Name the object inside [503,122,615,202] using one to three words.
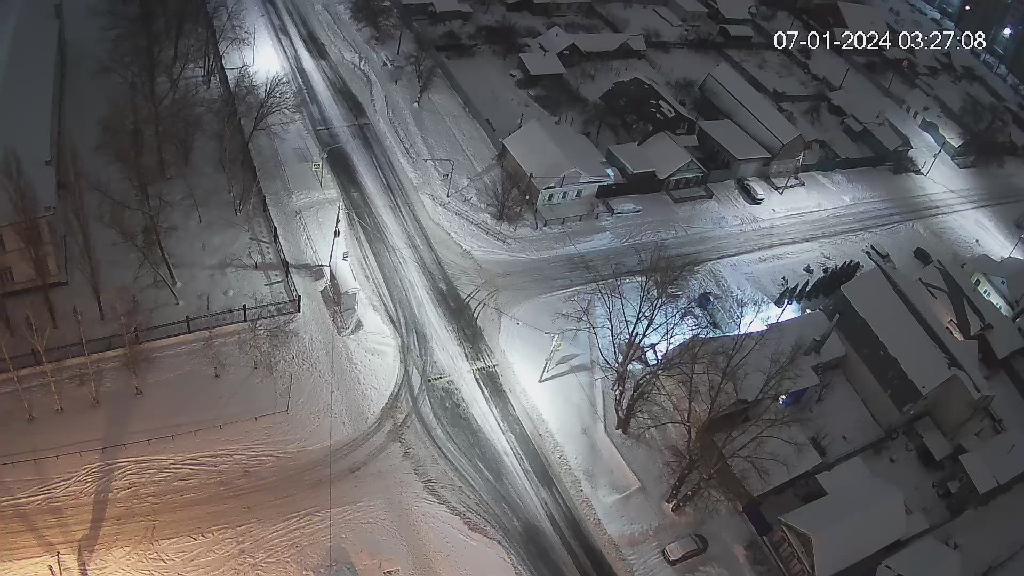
house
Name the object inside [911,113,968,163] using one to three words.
house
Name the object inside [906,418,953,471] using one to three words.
shed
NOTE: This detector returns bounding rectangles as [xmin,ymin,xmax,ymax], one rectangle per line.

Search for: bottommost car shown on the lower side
[662,535,712,568]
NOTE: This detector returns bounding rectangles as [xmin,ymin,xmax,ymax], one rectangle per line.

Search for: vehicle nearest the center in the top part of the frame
[610,198,644,216]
